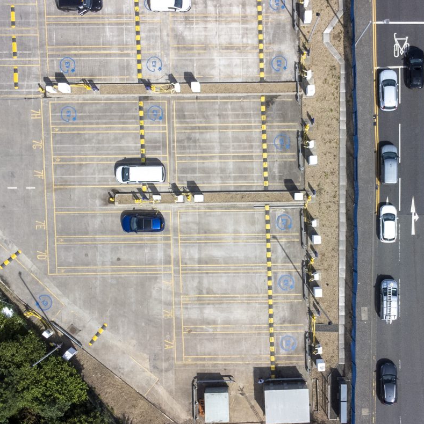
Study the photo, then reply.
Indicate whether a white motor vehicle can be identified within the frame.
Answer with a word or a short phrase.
Yes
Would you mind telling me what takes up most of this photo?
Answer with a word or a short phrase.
paved ground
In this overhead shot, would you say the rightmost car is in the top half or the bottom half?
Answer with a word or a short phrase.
top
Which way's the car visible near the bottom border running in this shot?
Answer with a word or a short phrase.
from top to bottom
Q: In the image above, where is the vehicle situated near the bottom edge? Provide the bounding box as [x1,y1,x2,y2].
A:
[377,362,399,405]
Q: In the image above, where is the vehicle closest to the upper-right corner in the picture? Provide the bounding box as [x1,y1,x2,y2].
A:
[404,47,424,91]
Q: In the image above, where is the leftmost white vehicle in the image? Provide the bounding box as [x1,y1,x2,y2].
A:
[116,164,165,187]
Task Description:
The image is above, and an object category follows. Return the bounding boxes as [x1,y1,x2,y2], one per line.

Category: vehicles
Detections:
[122,213,165,234]
[377,362,399,405]
[378,276,400,321]
[116,164,165,187]
[146,0,189,13]
[378,143,400,187]
[378,70,400,114]
[404,47,424,91]
[377,202,399,244]
[55,0,103,17]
